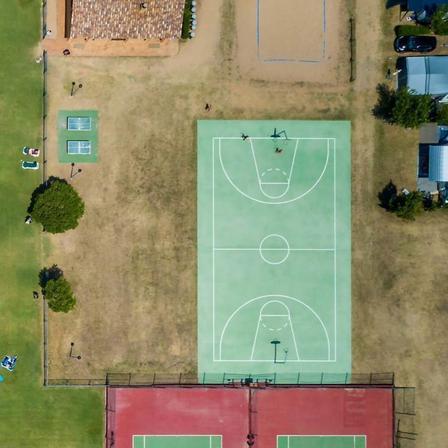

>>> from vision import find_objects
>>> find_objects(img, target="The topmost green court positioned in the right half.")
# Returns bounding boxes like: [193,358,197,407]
[197,121,351,383]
